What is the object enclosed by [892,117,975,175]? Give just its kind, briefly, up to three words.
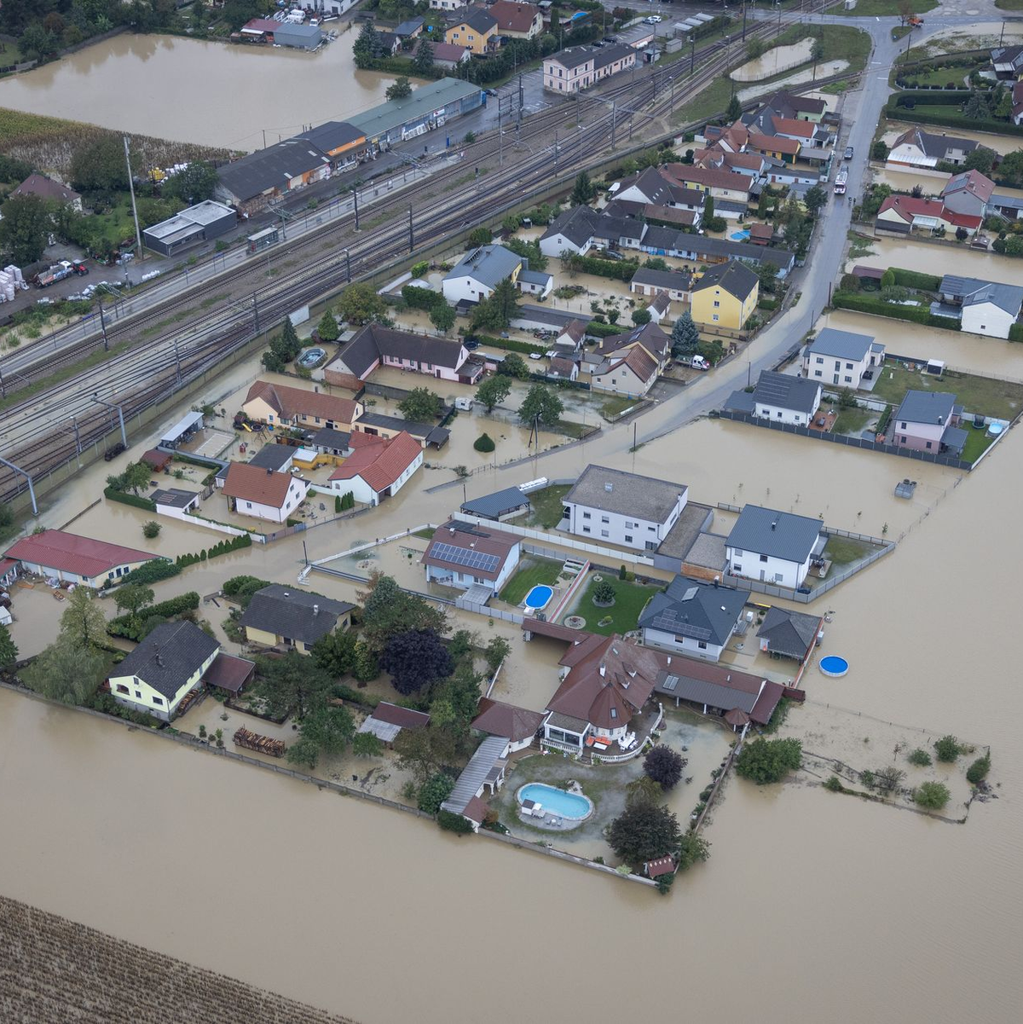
house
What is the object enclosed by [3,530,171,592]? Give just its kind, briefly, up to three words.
building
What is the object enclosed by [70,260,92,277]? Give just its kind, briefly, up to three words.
work vehicle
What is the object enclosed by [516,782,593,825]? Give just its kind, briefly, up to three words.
swimming pool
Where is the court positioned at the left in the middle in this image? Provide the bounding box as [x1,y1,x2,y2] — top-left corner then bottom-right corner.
[198,425,247,463]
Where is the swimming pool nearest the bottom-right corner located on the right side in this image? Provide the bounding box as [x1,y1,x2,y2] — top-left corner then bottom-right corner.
[819,655,849,678]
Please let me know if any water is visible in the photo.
Yes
